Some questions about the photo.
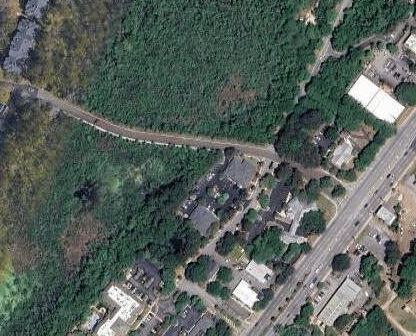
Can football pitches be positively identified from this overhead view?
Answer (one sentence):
No, there isn't any football pitch down there.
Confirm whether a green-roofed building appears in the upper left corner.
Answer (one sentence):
No, I see no green-roofed building in the upper left corner.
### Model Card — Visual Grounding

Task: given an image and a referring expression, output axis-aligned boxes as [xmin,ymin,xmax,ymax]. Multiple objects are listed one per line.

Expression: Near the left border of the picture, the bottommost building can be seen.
[4,18,39,74]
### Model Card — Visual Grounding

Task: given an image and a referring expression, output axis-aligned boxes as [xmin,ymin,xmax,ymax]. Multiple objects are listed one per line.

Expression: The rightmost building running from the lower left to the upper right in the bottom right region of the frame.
[318,277,361,326]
